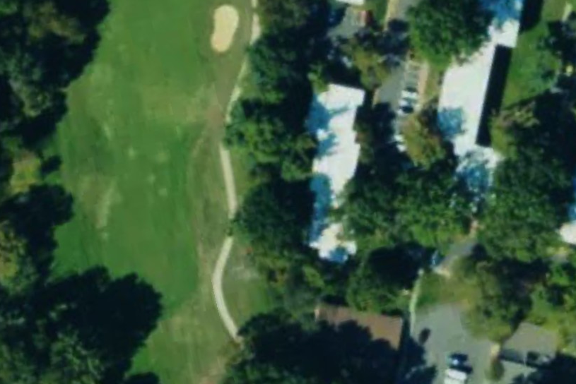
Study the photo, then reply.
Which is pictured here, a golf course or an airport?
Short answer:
golf course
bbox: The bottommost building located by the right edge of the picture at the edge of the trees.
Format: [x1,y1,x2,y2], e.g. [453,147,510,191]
[499,323,558,367]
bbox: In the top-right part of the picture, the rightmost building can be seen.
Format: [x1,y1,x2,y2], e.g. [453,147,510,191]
[438,0,524,201]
